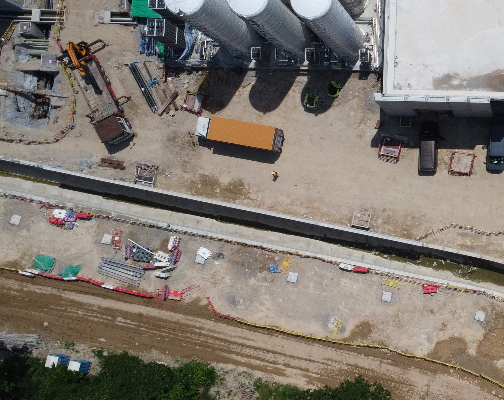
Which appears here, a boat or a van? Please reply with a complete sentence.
Of the two, only a van appears.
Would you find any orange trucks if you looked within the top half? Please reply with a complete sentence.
Yes, an orange truck appears within the top half.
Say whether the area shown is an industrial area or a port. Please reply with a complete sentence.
What you see here is an industrial area.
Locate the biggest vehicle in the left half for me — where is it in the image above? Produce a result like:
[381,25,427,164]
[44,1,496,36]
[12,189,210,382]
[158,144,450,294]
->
[51,44,131,146]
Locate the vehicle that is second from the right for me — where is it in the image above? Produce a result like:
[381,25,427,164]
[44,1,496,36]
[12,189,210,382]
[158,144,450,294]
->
[415,124,443,173]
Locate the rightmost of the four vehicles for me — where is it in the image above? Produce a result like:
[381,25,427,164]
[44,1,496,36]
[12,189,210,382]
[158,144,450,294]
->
[484,124,504,173]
